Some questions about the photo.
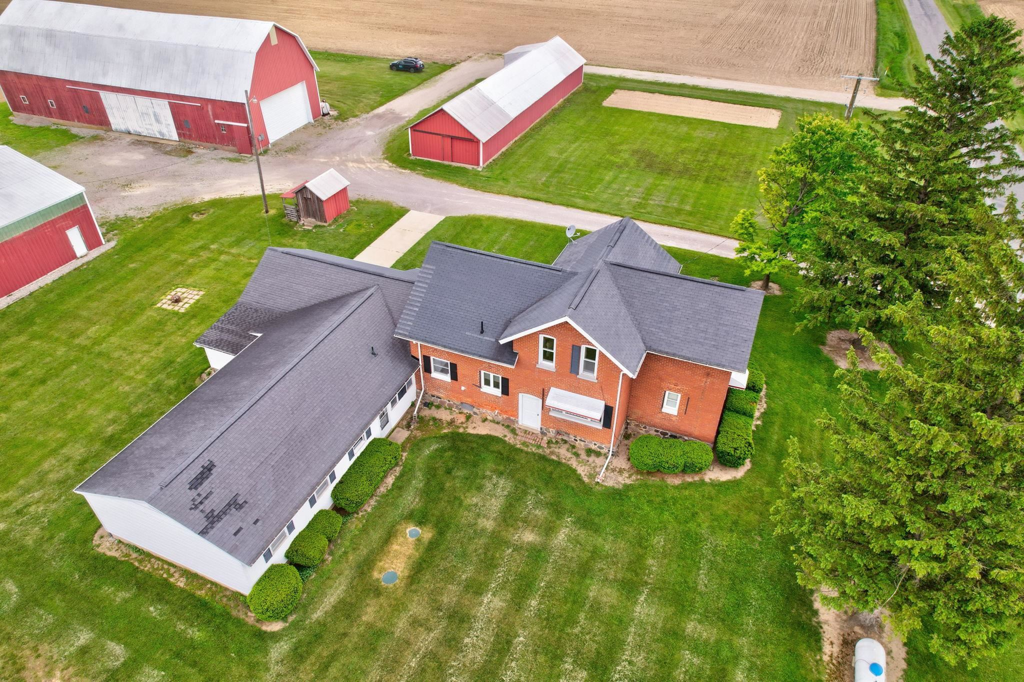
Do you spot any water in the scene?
No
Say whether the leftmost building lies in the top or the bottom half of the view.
top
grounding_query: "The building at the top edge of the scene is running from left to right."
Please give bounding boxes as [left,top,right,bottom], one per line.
[0,0,323,157]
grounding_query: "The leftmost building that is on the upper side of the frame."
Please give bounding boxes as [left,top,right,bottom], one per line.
[0,143,105,298]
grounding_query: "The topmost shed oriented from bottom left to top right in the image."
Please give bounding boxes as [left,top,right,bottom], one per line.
[404,35,586,166]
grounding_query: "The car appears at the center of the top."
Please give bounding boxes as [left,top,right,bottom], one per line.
[387,54,426,72]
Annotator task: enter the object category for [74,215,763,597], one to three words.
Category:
house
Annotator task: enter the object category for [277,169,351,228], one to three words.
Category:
shed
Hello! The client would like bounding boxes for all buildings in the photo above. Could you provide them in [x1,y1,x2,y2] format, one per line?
[0,143,105,298]
[404,35,586,166]
[0,0,323,157]
[277,169,351,228]
[74,215,763,597]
